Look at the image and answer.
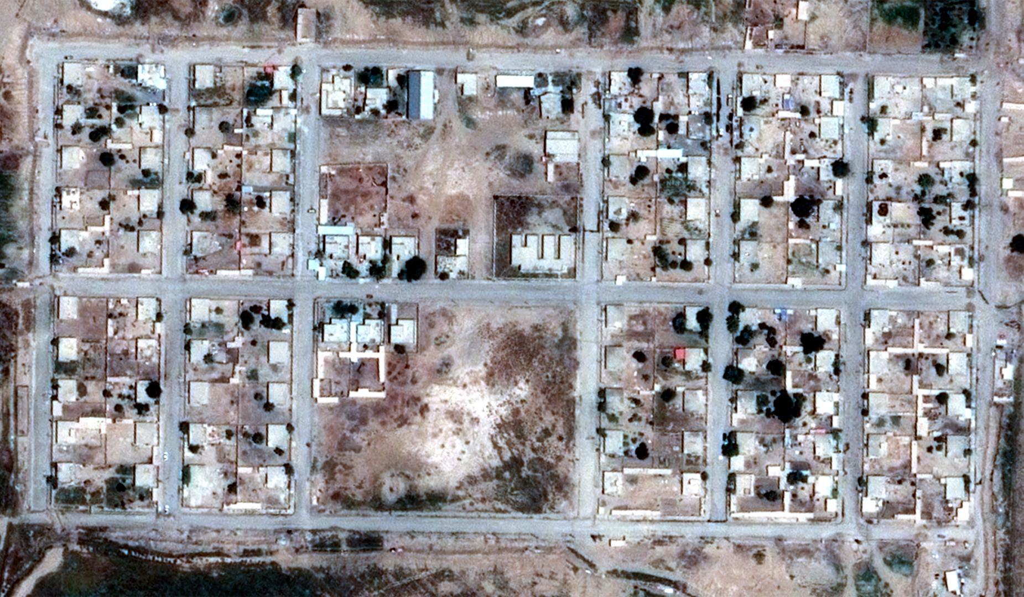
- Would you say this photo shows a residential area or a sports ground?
residential area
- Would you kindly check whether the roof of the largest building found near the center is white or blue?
white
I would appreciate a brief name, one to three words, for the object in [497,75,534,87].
shed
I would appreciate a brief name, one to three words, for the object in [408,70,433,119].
building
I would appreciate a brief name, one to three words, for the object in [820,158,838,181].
house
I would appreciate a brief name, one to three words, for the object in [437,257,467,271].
house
